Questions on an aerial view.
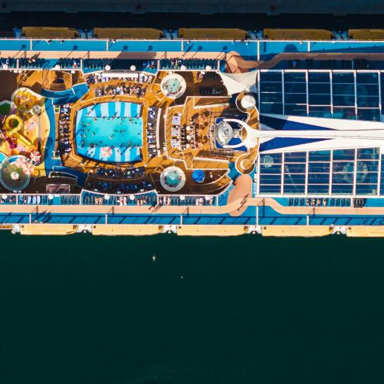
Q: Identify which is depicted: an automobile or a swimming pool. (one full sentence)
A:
The one in the frame is a swimming pool.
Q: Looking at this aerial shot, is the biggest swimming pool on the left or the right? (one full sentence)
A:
The biggest swimming pool appears in the left half of the scene.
